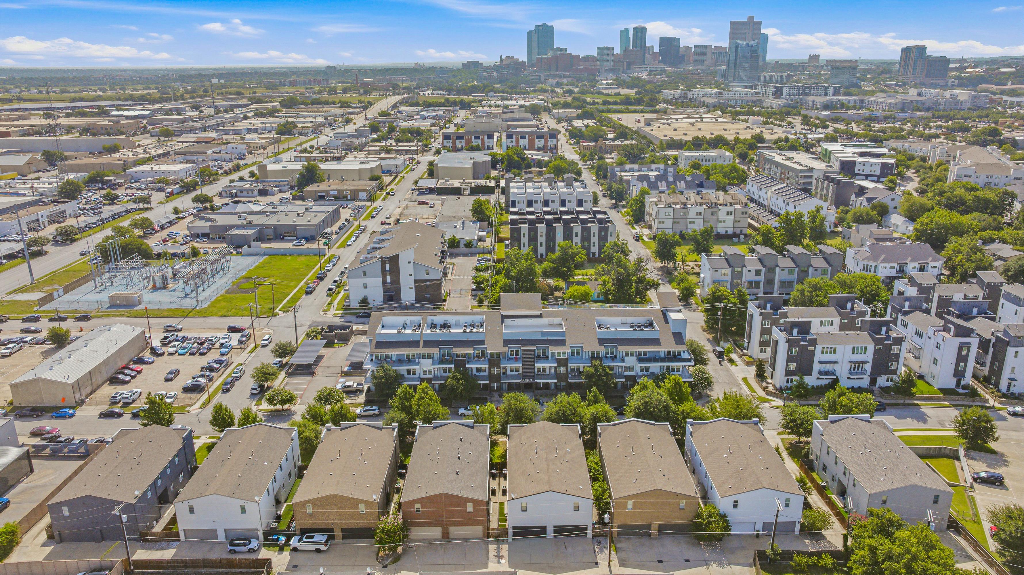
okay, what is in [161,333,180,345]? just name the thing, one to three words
vehicle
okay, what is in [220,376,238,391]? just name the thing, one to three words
car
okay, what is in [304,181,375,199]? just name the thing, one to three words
building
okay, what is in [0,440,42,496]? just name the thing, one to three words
shed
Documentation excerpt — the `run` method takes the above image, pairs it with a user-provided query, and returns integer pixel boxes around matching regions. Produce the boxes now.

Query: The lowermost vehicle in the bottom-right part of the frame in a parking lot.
[969,469,1006,485]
